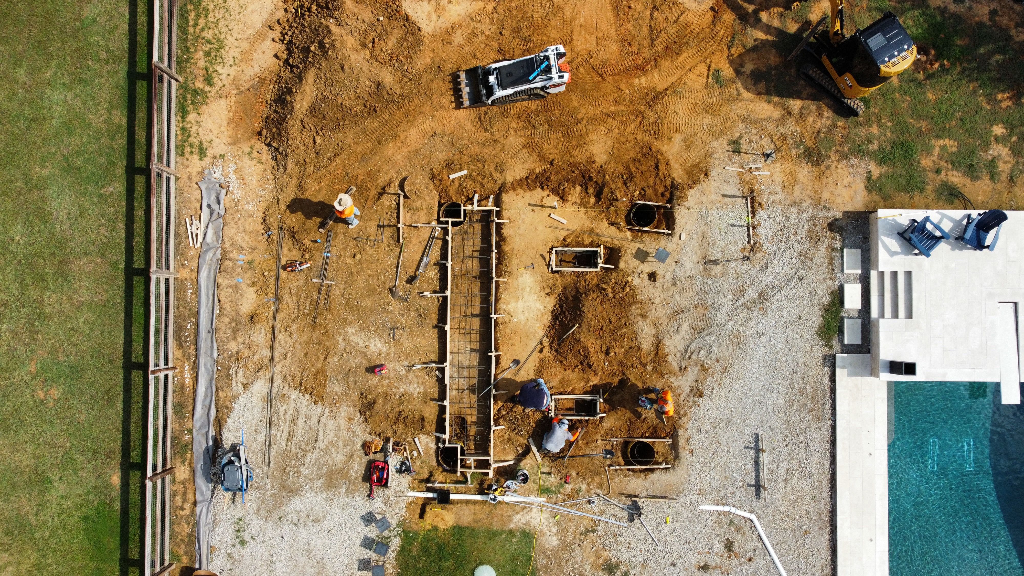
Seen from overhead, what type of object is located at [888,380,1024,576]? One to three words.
swimming pool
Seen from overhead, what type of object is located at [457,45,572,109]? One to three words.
work vehicle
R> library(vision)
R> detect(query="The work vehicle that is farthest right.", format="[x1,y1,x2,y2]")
[787,0,921,120]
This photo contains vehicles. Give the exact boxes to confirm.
[457,45,572,109]
[787,0,921,120]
